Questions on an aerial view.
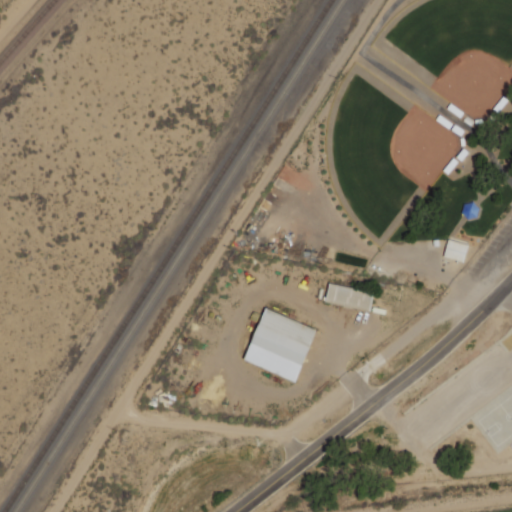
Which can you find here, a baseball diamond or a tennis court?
baseball diamond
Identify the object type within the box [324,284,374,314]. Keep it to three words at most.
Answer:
shed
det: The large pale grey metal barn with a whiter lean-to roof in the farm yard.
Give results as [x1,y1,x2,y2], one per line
[244,308,317,380]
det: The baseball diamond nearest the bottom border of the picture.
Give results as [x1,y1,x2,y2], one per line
[328,63,462,244]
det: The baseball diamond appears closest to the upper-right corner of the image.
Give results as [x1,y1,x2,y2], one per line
[371,0,512,119]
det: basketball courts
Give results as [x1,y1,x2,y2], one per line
[472,392,512,454]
